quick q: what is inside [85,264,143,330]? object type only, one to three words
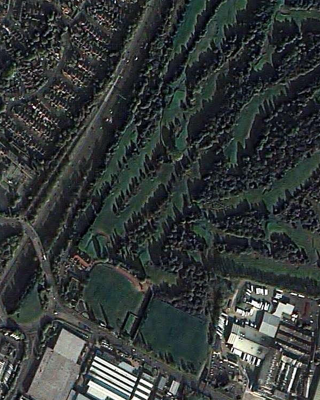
sports field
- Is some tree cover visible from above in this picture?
Yes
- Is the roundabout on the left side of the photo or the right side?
left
